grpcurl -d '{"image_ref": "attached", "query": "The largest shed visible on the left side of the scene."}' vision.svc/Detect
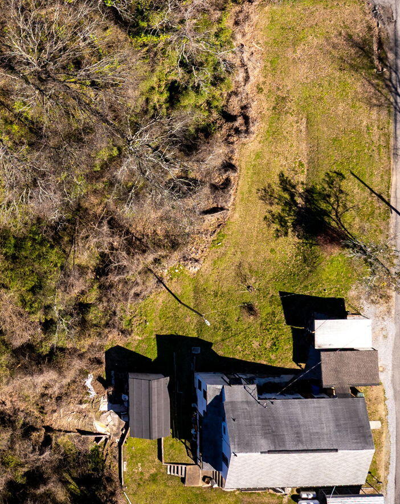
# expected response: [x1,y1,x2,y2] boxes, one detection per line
[126,371,171,439]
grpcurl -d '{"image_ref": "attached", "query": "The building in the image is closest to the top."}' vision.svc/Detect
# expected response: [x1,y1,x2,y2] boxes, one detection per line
[304,314,372,349]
